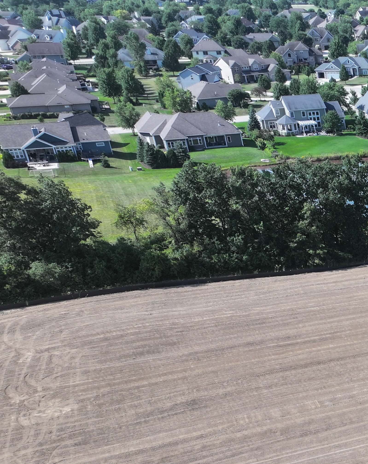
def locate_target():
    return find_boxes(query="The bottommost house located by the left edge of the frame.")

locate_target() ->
[0,119,121,162]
